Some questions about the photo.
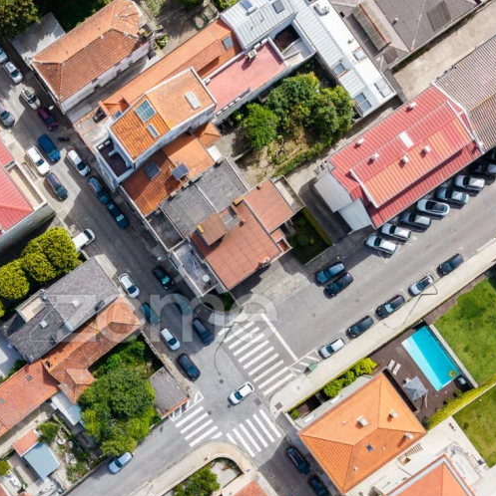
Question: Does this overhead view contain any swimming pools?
Yes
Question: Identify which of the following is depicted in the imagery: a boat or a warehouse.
warehouse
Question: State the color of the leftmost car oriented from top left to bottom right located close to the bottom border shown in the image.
black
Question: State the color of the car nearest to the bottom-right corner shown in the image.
black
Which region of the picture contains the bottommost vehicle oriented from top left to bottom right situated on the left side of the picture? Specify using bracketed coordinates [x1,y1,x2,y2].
[176,351,202,383]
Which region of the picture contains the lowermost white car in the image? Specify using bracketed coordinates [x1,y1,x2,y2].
[227,381,256,405]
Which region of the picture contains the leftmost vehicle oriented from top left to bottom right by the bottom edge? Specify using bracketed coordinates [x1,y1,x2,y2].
[284,444,311,477]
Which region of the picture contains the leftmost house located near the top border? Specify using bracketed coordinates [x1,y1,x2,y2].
[32,0,152,108]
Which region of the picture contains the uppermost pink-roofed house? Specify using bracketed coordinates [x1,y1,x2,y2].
[204,38,289,124]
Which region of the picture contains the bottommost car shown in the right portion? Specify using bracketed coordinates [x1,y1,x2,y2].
[307,473,330,496]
